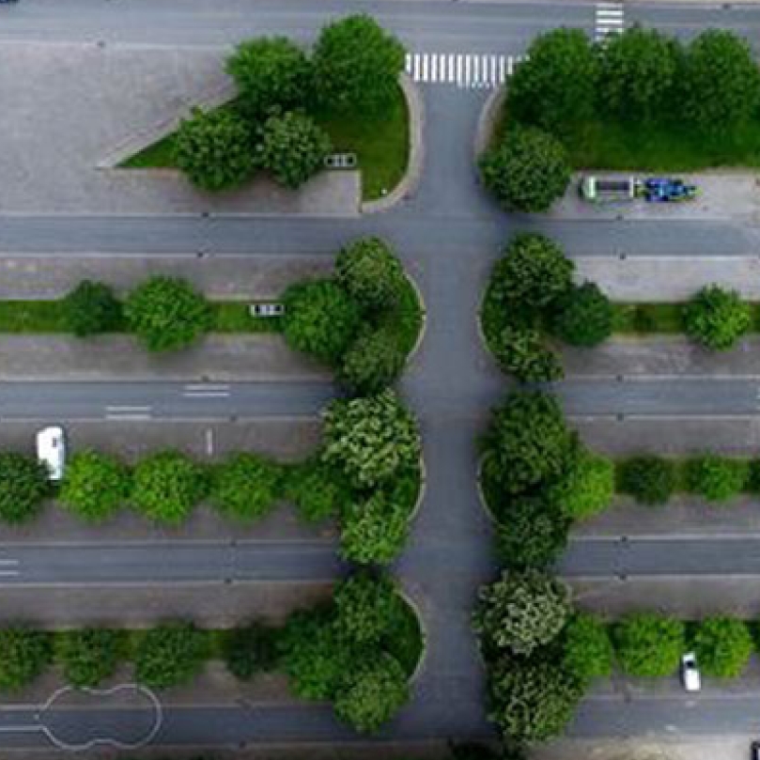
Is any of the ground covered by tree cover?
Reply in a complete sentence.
Yes, tree cover shows up in the scene.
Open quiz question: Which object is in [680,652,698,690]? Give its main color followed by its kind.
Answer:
white vehicle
